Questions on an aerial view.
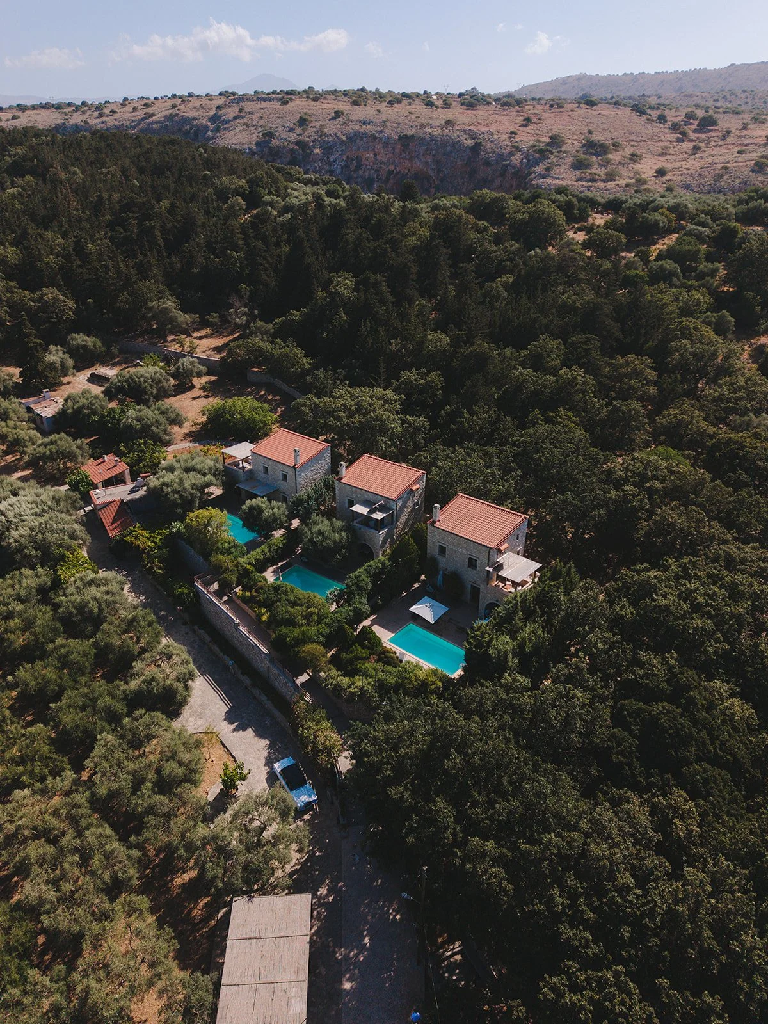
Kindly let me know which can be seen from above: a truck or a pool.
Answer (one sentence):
Of the two, only a pool appears.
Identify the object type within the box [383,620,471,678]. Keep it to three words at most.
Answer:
swimming pool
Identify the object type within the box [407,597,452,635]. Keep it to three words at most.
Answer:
umbrella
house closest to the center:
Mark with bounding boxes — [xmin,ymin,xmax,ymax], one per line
[332,452,430,558]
